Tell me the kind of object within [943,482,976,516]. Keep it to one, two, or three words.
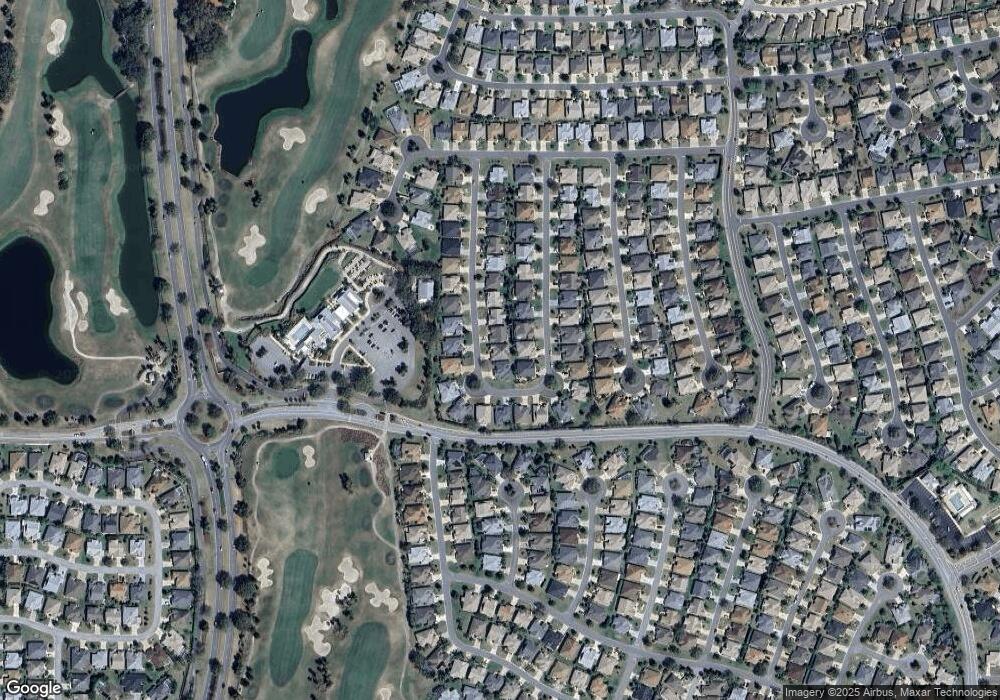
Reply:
swimming pool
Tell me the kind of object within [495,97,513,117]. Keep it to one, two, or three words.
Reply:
house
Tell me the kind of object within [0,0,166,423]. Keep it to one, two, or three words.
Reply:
golf course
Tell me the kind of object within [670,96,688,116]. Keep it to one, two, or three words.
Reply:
house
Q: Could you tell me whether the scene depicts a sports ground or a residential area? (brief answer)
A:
residential area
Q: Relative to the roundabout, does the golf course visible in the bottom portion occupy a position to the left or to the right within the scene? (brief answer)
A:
to its right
